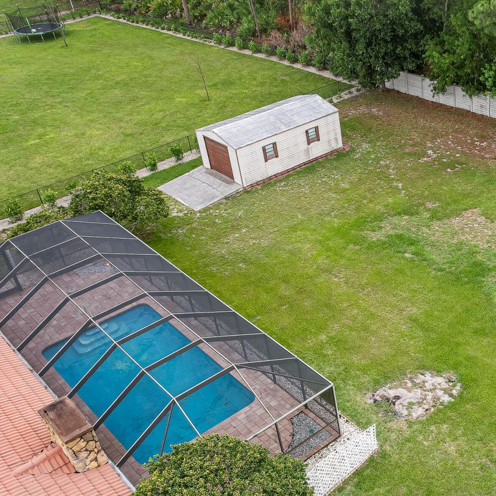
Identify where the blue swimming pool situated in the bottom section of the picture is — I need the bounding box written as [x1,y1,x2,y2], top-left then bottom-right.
[44,308,254,465]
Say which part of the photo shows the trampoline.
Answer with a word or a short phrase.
top left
